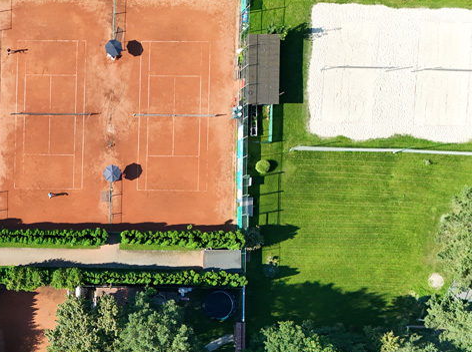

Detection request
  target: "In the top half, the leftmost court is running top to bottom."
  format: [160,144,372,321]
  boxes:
[0,0,114,241]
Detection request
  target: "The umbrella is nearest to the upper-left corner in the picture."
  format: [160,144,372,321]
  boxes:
[105,40,122,58]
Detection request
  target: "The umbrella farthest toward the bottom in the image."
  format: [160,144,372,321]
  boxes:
[104,166,120,183]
